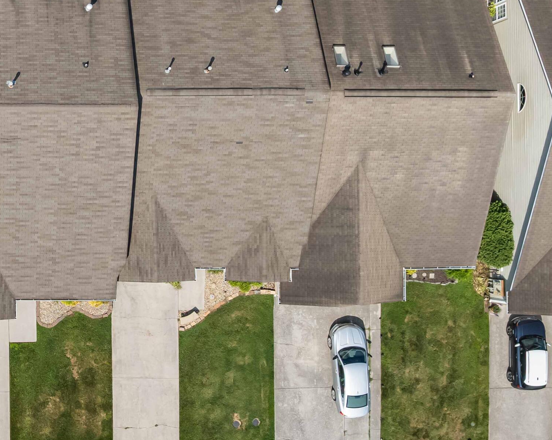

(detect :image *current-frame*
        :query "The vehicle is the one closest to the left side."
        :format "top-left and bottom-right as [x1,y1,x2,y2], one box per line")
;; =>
[331,325,380,420]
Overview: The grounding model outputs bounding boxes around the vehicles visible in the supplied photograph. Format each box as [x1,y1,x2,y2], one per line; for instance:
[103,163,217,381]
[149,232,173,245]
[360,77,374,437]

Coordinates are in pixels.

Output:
[500,319,551,395]
[331,325,380,420]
